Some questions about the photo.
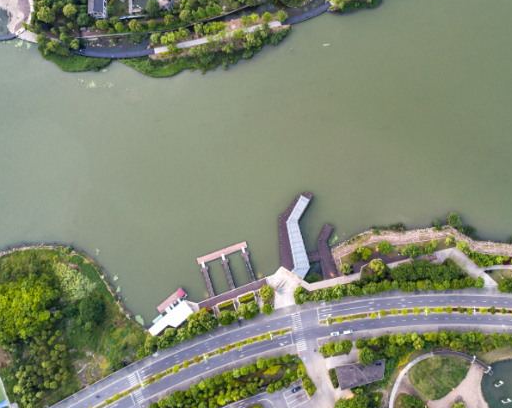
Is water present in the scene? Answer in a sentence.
Yes, there's water in this view.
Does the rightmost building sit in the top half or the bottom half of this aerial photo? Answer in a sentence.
The rightmost building sits in the bottom half of the picture.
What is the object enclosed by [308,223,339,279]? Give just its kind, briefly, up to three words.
pier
